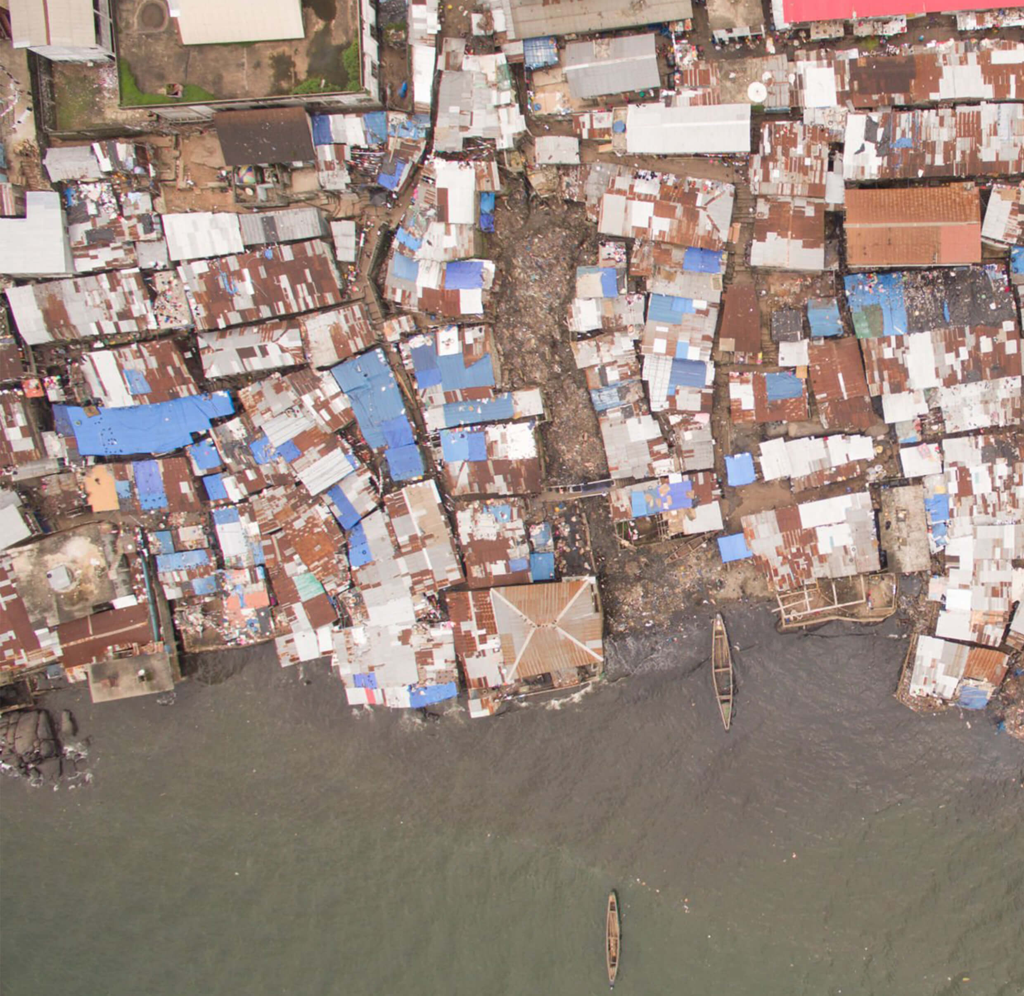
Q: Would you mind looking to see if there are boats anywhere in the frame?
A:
Yes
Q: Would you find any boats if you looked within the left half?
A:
No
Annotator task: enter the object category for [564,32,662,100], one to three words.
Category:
building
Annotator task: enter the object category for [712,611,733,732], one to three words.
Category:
boat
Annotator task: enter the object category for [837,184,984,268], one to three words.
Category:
house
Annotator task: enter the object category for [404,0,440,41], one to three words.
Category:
shed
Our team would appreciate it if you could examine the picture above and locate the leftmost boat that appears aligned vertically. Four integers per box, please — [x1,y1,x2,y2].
[604,888,620,987]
